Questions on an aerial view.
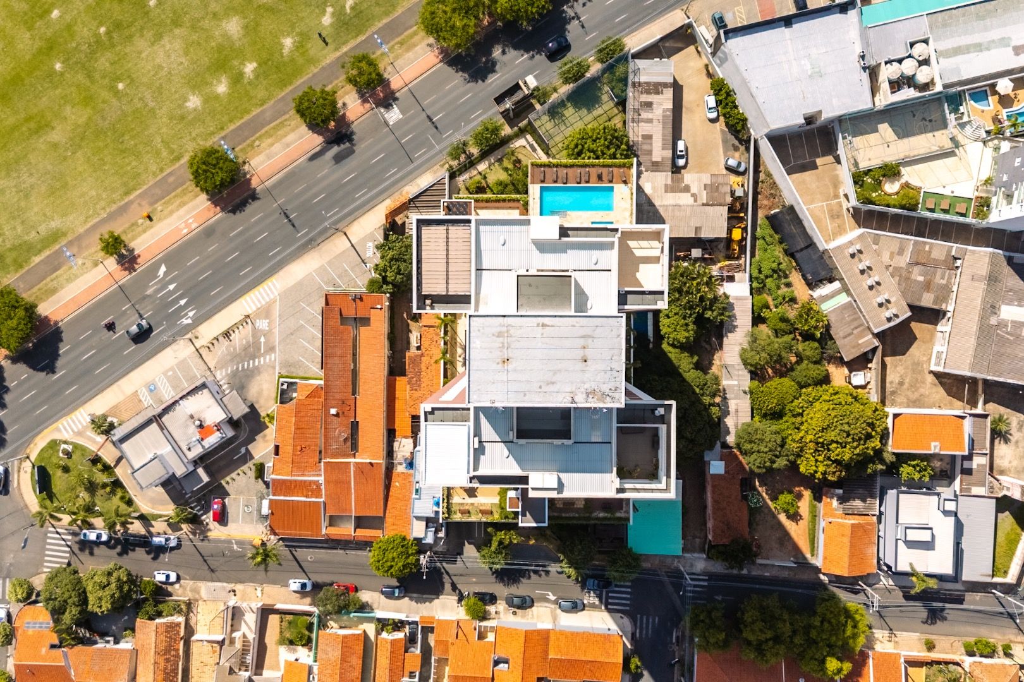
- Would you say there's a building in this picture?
Yes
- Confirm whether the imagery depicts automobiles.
Yes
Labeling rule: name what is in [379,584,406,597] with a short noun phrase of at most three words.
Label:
vehicle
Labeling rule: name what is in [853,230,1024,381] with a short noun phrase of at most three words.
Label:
building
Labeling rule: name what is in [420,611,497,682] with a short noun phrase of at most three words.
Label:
house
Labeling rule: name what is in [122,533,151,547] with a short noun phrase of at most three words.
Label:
car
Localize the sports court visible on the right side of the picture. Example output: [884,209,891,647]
[840,95,956,172]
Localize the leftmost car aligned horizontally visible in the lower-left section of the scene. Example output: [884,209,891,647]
[81,529,110,541]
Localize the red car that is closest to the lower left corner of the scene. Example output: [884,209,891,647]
[211,498,225,523]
